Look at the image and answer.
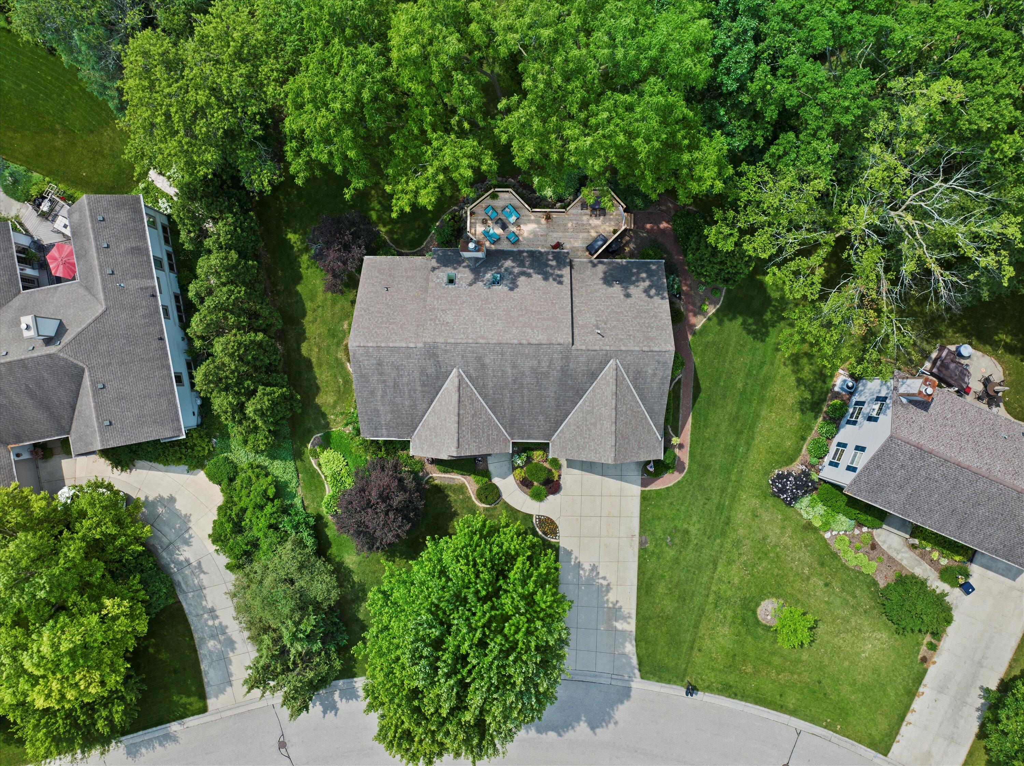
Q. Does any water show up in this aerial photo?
No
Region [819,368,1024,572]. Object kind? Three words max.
house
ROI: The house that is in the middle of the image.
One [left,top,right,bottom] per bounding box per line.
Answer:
[349,240,675,464]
